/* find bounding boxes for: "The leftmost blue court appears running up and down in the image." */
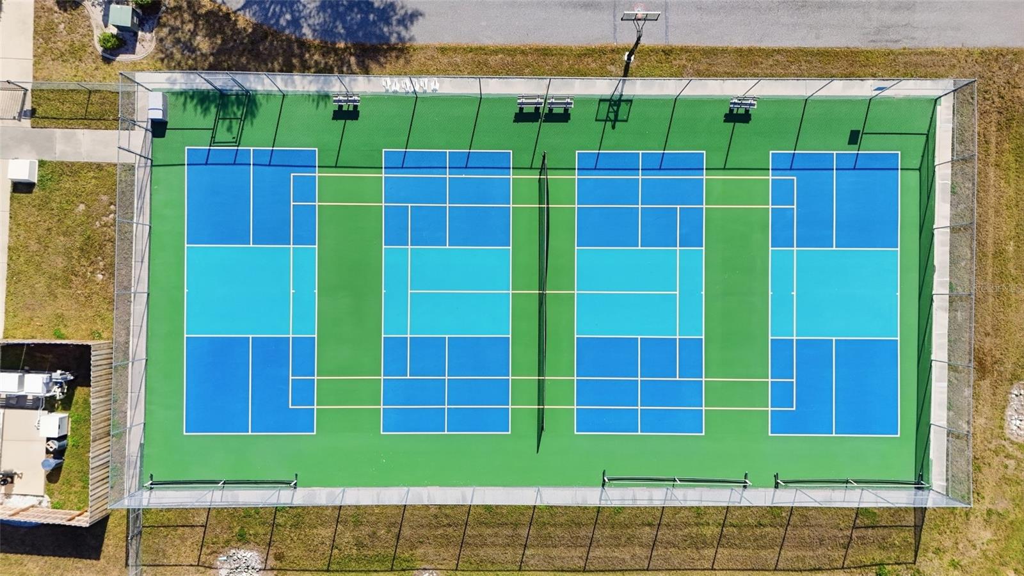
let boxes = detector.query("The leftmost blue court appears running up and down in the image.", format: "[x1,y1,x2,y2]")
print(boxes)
[184,147,317,434]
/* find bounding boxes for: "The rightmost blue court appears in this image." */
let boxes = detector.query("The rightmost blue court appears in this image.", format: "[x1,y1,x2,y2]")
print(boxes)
[770,151,900,436]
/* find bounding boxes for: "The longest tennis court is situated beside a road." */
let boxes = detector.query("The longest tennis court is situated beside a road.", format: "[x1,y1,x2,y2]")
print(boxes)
[144,89,936,488]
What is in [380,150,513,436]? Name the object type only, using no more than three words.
sports court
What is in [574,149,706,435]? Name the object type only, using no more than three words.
sports court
